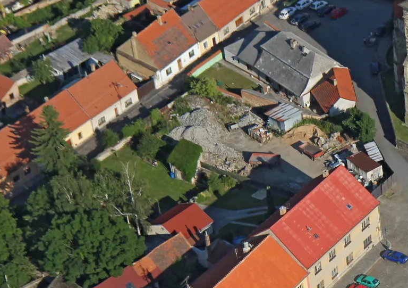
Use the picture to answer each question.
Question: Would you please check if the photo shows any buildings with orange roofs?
Yes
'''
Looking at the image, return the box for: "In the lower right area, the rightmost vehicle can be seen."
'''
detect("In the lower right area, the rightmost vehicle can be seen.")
[380,251,408,265]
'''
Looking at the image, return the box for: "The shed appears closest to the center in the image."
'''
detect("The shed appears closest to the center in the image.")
[166,133,202,181]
